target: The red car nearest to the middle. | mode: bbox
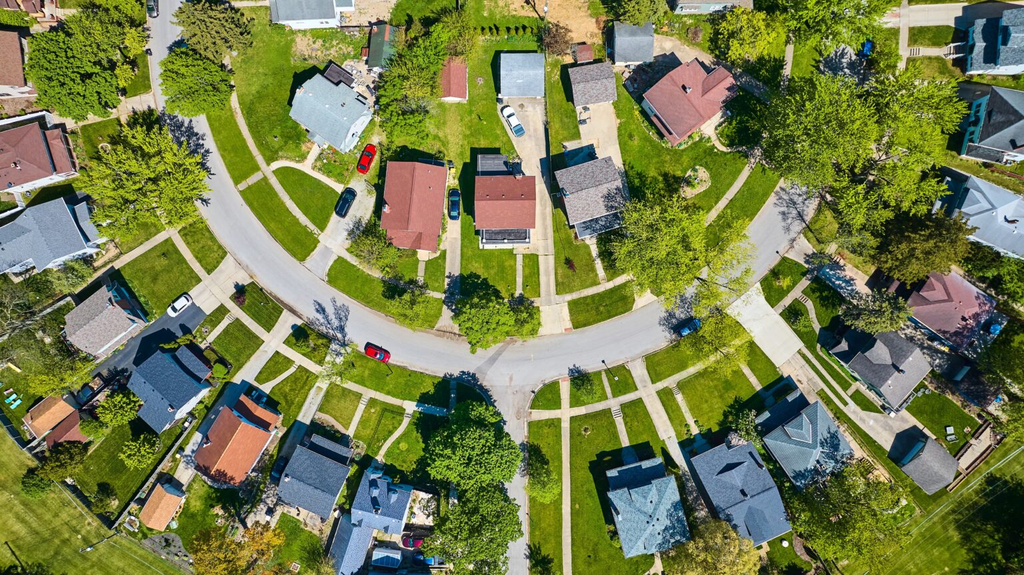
[363,343,392,362]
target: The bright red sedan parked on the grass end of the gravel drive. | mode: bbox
[355,144,376,175]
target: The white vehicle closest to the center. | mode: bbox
[500,104,527,139]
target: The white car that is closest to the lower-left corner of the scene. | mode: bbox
[165,292,195,316]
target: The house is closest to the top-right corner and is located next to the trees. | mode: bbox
[941,7,1024,77]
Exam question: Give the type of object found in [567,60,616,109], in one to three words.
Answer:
building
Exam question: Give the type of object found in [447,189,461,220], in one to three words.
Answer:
car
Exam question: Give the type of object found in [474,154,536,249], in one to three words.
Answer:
house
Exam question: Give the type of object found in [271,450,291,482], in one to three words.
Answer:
car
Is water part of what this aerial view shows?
No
